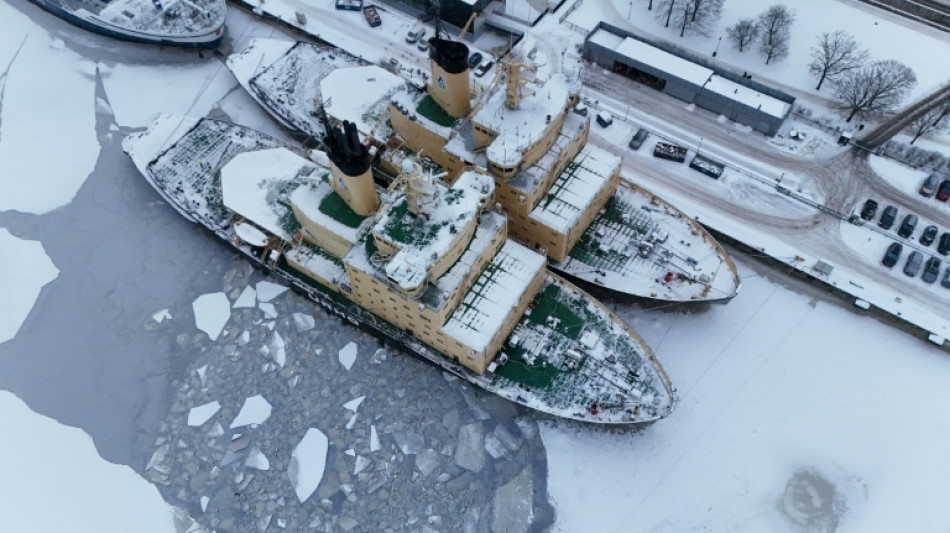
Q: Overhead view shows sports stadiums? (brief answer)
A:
No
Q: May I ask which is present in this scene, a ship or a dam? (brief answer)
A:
ship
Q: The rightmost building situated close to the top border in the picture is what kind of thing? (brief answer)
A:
warehouse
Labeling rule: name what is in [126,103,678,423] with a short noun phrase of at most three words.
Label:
ship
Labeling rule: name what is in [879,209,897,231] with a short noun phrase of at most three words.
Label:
car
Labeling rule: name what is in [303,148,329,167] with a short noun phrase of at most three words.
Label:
boat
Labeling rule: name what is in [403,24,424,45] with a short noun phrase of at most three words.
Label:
vehicle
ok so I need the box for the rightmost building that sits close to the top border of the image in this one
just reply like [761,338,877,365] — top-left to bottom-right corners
[582,20,794,137]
